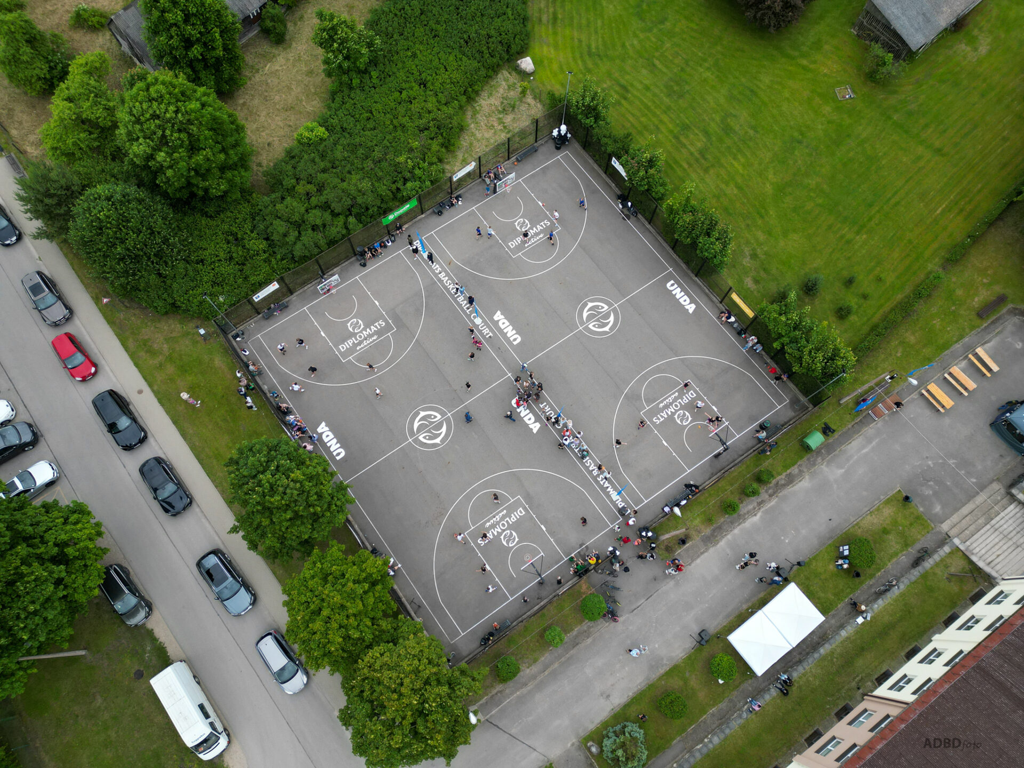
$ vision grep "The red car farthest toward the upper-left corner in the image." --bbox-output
[50,332,98,380]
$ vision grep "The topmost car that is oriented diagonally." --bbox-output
[18,268,71,326]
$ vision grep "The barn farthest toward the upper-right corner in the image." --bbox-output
[856,0,962,60]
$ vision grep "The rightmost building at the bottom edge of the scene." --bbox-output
[785,580,1024,768]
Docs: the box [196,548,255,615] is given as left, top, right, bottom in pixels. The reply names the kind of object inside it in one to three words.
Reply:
car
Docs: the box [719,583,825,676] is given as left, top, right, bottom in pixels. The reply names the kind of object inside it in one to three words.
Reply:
tent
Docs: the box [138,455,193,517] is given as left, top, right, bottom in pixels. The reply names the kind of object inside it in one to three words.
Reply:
car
